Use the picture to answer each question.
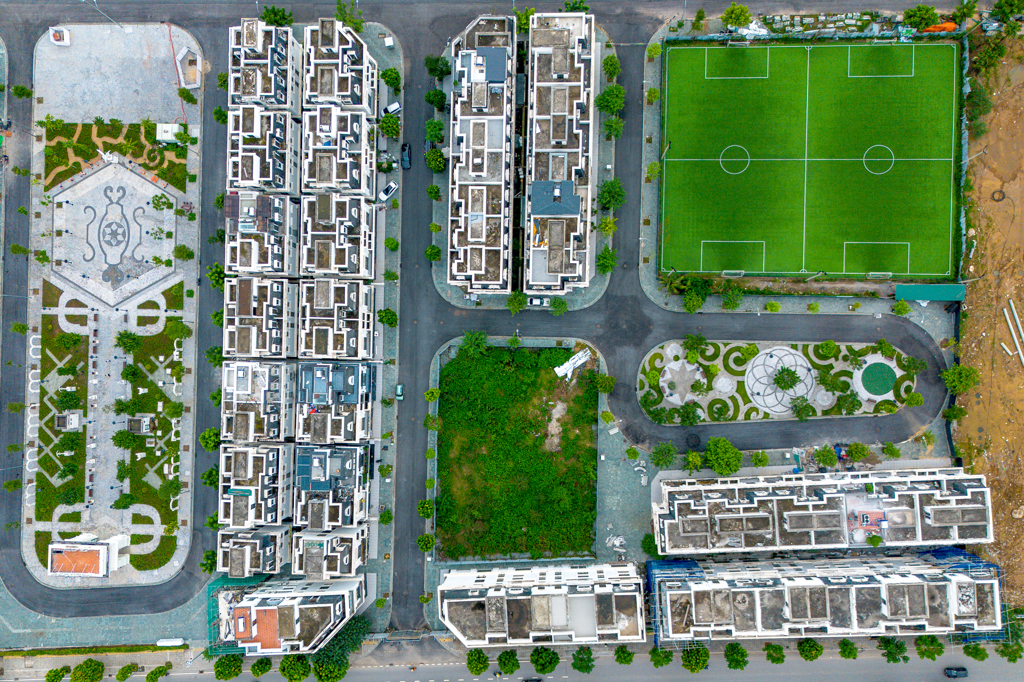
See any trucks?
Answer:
No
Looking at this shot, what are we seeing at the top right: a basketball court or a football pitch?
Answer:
football pitch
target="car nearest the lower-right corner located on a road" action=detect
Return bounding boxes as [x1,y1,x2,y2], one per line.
[943,666,968,679]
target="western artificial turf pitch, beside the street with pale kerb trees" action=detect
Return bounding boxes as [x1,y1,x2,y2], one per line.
[659,37,810,285]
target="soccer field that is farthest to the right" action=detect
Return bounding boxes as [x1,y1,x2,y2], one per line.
[804,33,958,285]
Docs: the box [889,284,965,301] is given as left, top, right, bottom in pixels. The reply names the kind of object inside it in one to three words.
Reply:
shed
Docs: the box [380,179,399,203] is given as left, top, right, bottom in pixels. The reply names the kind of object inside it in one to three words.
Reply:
car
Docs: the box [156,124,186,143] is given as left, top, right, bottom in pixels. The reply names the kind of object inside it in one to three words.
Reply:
building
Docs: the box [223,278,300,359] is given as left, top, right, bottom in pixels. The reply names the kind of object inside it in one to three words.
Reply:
house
